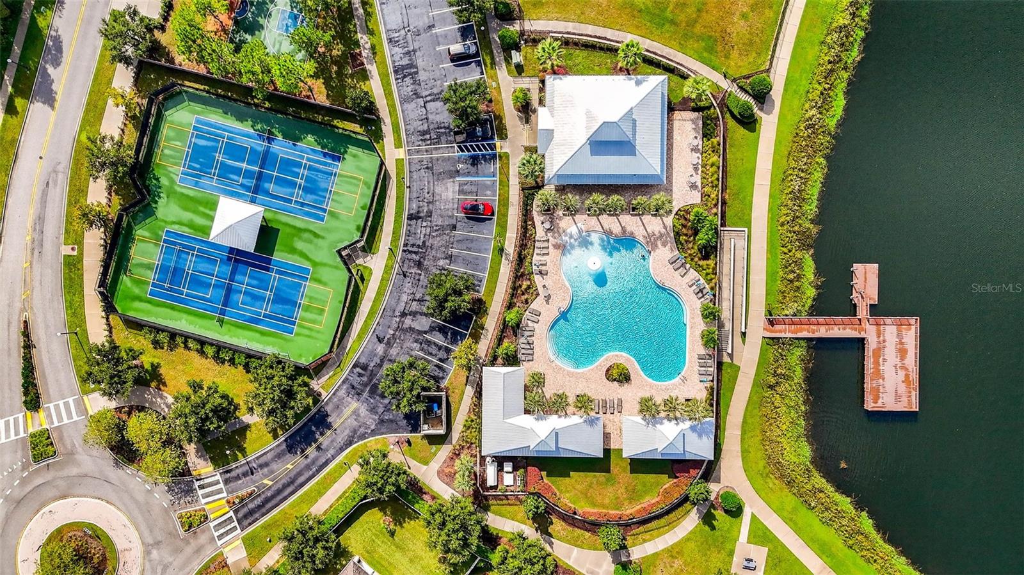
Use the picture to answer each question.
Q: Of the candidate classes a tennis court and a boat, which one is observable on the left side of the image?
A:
tennis court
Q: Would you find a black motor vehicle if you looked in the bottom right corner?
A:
No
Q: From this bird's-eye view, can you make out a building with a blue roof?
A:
No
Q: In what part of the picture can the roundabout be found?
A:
bottom left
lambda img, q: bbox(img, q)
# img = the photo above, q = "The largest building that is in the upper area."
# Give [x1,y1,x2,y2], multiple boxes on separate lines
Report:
[538,75,667,185]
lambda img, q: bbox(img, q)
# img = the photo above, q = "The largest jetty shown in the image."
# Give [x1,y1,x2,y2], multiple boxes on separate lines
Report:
[763,317,920,409]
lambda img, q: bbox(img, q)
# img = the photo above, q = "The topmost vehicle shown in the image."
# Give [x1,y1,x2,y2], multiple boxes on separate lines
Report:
[447,43,478,61]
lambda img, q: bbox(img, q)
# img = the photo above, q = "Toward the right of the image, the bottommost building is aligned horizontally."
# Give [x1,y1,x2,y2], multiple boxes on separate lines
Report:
[623,416,714,460]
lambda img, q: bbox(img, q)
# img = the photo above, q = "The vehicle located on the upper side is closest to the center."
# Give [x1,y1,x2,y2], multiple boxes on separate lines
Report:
[462,202,493,216]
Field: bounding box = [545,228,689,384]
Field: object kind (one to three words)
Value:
swimming pool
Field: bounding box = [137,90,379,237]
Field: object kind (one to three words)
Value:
tennis court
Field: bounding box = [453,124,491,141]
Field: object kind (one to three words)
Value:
vehicle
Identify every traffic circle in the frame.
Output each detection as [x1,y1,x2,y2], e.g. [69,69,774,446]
[14,495,145,575]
